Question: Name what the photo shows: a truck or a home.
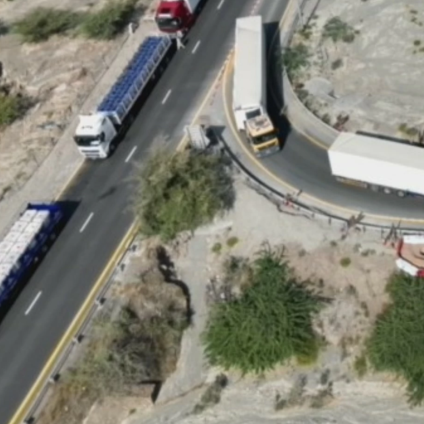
truck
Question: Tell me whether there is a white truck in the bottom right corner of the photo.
No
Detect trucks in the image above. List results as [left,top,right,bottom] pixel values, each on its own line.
[330,130,424,198]
[0,203,64,306]
[150,0,203,39]
[233,15,281,159]
[71,35,175,158]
